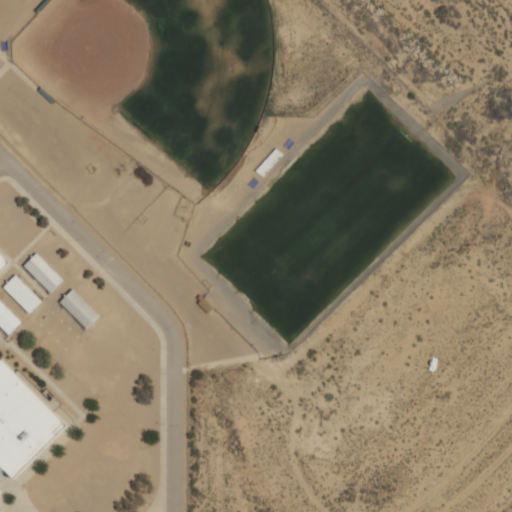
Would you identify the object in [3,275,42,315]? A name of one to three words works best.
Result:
building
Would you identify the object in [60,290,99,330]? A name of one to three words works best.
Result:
building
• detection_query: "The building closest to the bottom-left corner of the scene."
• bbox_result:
[0,360,67,480]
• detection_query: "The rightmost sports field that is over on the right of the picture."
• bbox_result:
[201,90,458,348]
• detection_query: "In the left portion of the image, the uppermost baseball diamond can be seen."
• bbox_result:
[12,0,272,204]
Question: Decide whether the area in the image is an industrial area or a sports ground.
sports ground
